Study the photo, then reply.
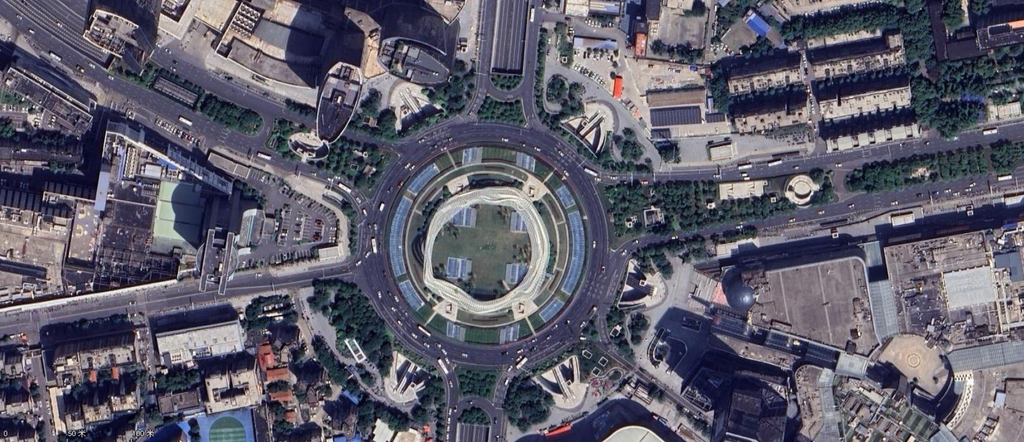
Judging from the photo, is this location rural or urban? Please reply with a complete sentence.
This place is urban.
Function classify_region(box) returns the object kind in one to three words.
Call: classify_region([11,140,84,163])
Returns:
building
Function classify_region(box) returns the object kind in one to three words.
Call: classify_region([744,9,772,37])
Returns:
house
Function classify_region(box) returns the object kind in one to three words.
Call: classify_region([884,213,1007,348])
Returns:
building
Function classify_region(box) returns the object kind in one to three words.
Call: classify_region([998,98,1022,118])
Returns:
shed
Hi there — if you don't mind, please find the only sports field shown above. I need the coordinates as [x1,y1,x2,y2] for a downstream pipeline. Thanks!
[209,417,245,442]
